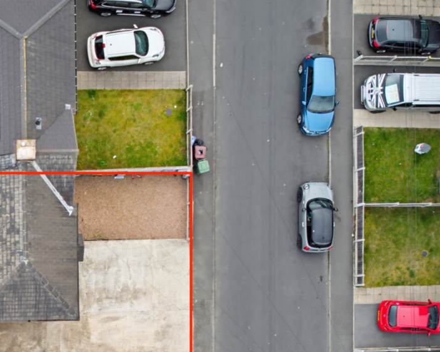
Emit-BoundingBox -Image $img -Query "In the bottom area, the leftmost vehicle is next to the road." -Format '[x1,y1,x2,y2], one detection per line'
[295,181,340,251]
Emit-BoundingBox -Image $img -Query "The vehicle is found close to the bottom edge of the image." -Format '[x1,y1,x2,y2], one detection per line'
[371,298,440,338]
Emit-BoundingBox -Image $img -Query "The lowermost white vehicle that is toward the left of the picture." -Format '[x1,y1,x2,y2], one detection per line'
[86,25,166,70]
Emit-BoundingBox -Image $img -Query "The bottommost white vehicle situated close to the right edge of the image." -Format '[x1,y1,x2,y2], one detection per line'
[362,68,440,113]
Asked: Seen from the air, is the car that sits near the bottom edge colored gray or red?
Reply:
red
